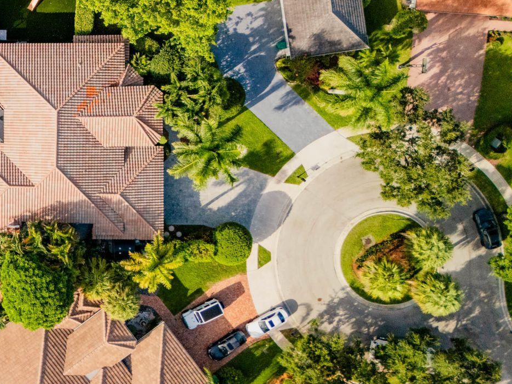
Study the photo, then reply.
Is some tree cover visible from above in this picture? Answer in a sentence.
Yes, some tree cover is visible.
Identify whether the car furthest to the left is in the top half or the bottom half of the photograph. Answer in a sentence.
The car furthest to the left is in the bottom half of the image.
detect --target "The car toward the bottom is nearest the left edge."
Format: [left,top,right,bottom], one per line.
[180,297,224,329]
